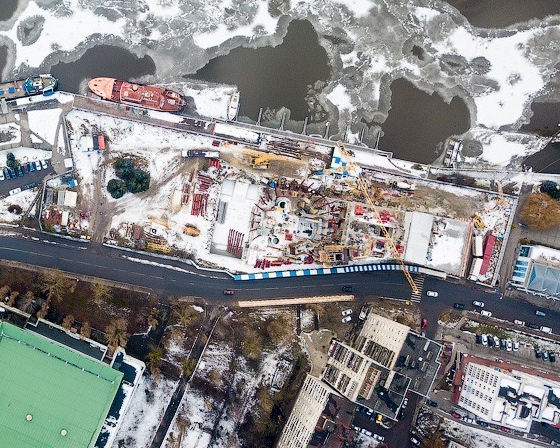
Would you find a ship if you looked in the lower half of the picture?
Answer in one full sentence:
No, there's no ship to be seen in the lower half of the picture.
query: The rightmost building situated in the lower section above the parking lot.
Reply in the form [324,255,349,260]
[501,244,560,301]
